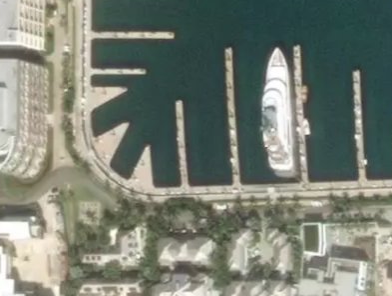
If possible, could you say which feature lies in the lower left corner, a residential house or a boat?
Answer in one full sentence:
The feature located in the lower left corner is a residential house.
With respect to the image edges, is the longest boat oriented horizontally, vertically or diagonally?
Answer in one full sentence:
What the image shows is the longest boat lying vertically.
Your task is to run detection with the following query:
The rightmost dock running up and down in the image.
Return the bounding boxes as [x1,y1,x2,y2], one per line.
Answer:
[353,70,368,181]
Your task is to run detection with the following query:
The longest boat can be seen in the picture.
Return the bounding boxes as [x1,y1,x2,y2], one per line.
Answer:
[264,47,301,178]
